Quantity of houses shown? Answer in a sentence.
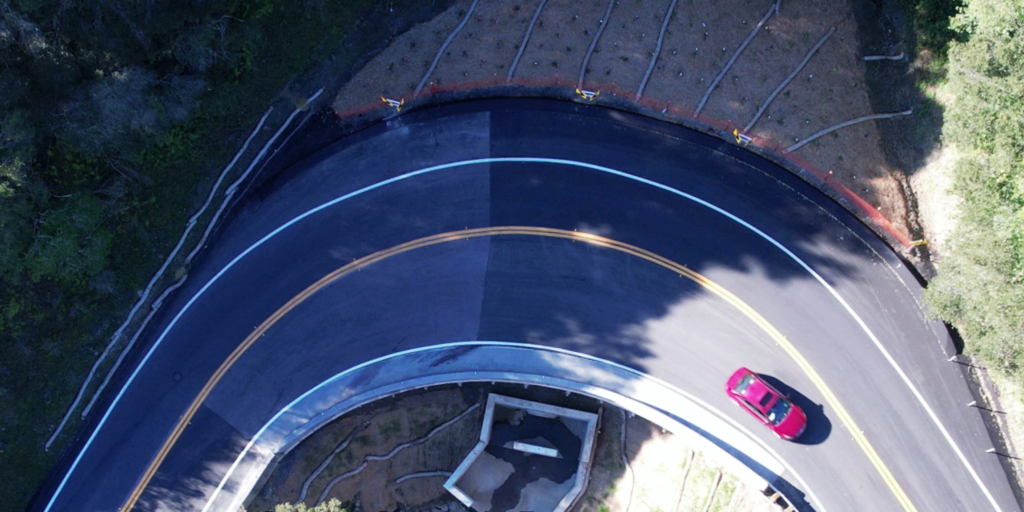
I count no houses.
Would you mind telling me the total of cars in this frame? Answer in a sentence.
My tally gives 1 car in this photo.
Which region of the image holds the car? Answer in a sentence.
The car sits in the bottom right section of the image.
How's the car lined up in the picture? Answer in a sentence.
What the image shows is the car lying on a diagonal.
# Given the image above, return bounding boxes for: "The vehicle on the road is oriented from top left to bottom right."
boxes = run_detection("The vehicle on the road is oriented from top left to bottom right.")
[726,366,813,445]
